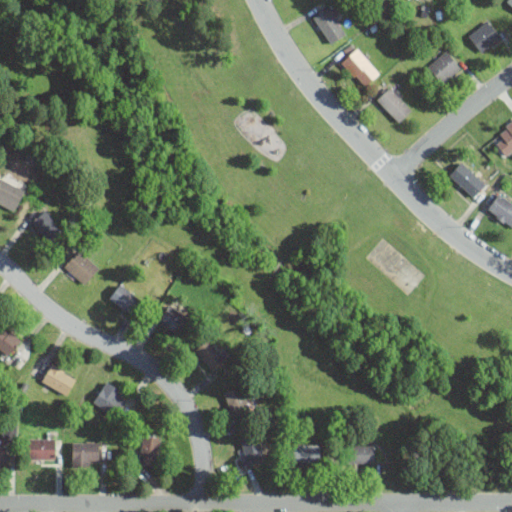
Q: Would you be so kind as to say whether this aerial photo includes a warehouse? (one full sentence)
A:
No, no warehouse is visible in the view.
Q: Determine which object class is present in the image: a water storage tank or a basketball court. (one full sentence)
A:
There is a basketball court in the scene.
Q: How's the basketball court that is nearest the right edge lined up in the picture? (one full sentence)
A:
What the image shows is the basketball court that is nearest the right edge lying at an angle.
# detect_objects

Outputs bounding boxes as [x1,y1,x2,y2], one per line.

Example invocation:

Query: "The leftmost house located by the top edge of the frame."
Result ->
[314,9,346,44]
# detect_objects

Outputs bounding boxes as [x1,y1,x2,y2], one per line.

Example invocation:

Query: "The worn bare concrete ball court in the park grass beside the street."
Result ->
[366,238,425,296]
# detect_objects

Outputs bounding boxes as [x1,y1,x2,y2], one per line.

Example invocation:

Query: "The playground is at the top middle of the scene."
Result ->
[234,110,287,162]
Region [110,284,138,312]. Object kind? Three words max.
house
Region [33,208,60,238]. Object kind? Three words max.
house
